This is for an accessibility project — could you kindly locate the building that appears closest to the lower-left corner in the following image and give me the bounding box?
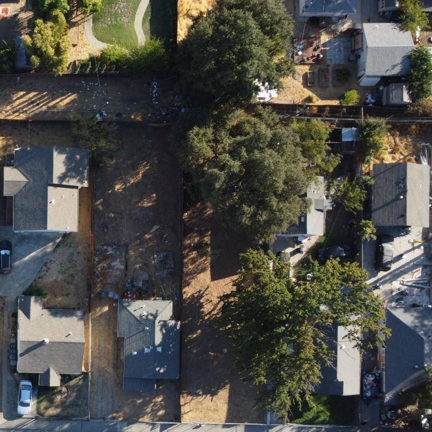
[17,296,85,386]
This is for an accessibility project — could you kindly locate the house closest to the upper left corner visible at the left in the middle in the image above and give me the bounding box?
[2,147,88,233]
